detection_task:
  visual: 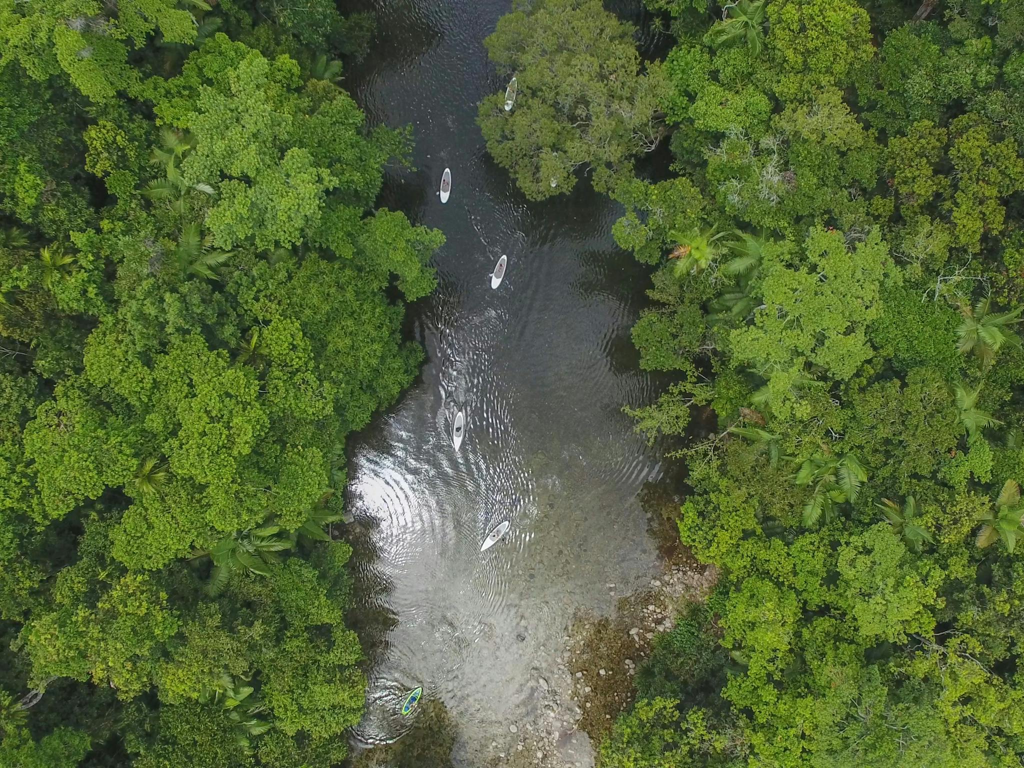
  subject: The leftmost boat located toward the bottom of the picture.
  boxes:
[402,688,421,715]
